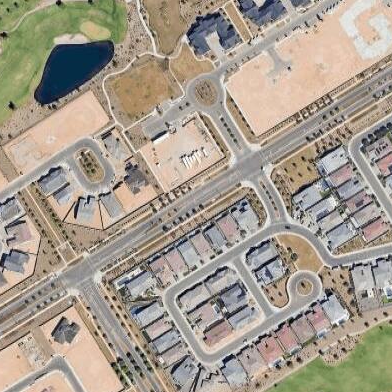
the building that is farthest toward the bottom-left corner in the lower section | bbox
[42,314,82,353]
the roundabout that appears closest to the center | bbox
[184,70,227,113]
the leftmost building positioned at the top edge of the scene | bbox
[187,10,244,56]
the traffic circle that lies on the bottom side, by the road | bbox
[286,271,322,306]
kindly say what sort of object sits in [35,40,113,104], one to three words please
pond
